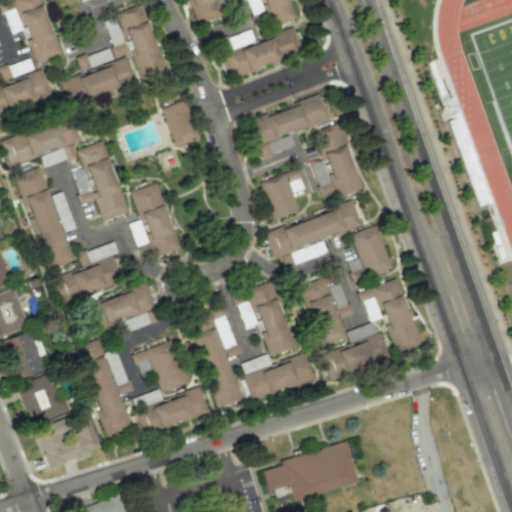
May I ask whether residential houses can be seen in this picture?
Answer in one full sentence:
Yes, the image includes a residential house.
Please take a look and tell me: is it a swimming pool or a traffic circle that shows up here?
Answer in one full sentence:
Looking from above, you can make out a swimming pool.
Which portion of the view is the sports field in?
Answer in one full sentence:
Look in the top right portion of the view to spot the sports field.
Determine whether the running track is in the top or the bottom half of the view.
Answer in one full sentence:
The running track sits in the top half of the picture.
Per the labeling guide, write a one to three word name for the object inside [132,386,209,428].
house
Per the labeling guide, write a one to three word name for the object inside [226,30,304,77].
house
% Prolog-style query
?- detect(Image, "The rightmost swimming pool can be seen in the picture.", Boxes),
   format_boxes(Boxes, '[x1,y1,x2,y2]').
[117,116,176,162]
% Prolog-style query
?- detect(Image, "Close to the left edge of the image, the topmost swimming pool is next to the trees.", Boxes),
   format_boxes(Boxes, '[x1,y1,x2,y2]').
[3,248,20,272]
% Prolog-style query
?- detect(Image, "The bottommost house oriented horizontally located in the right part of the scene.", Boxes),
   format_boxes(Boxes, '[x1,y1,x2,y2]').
[264,442,358,500]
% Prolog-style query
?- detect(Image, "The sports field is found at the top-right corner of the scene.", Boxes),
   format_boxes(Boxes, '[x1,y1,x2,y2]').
[462,0,512,183]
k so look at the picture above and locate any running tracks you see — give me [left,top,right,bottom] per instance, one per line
[439,0,512,245]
